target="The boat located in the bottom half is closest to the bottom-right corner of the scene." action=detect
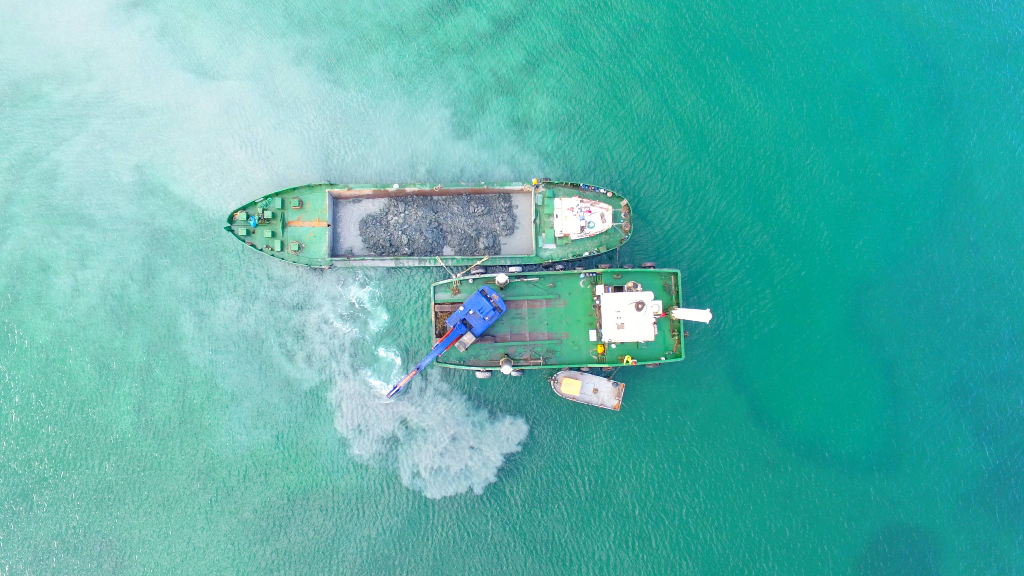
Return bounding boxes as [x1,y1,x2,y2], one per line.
[551,370,625,410]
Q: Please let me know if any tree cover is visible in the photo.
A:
No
